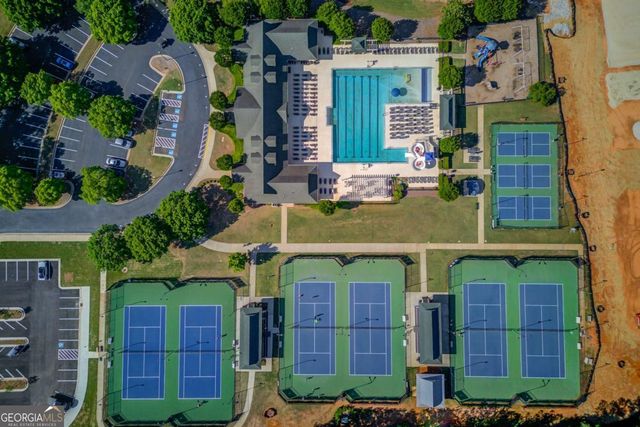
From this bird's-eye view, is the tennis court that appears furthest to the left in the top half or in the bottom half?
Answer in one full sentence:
The tennis court that appears furthest to the left is in the bottom half of the image.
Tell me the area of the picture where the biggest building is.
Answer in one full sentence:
The biggest building is located in the top region of the scene.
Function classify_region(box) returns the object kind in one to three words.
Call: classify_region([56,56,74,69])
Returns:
vehicle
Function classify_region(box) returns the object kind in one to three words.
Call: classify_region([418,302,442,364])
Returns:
building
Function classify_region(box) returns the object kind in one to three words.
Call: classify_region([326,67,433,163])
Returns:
swimming pool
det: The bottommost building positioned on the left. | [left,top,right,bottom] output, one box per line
[241,306,263,370]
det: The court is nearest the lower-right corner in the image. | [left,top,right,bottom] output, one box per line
[449,258,580,406]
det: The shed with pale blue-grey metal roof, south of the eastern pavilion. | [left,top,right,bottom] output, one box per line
[415,372,445,413]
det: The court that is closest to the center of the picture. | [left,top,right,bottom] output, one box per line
[279,257,406,401]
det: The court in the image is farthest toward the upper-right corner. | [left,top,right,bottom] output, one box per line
[491,123,559,228]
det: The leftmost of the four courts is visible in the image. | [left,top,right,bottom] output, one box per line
[106,281,236,425]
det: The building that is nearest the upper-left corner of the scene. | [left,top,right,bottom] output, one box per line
[229,20,318,204]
